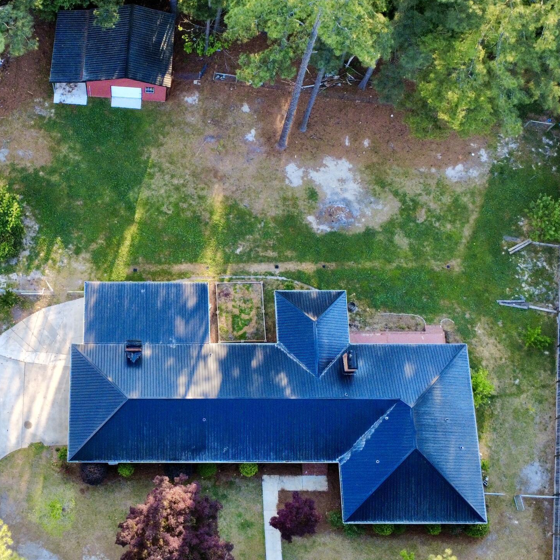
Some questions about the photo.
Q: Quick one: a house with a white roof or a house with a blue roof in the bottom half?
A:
house with a blue roof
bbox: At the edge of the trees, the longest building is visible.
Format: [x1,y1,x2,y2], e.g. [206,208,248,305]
[67,281,489,525]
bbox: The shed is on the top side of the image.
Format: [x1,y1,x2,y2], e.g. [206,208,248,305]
[49,3,177,101]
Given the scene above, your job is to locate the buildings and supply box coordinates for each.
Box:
[67,281,489,525]
[49,3,177,101]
